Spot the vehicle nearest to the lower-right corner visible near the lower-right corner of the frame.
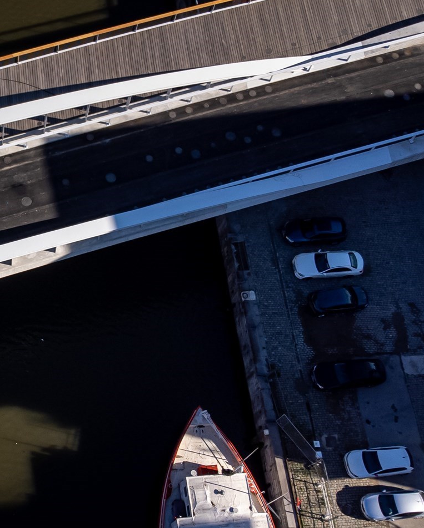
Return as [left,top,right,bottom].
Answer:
[358,486,424,525]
